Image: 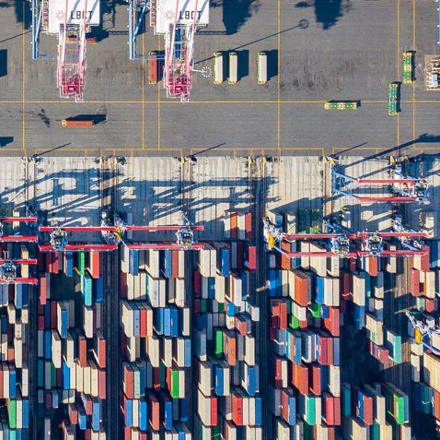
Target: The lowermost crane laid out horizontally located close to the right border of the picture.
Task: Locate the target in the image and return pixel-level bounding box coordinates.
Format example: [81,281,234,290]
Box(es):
[329,214,424,258]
